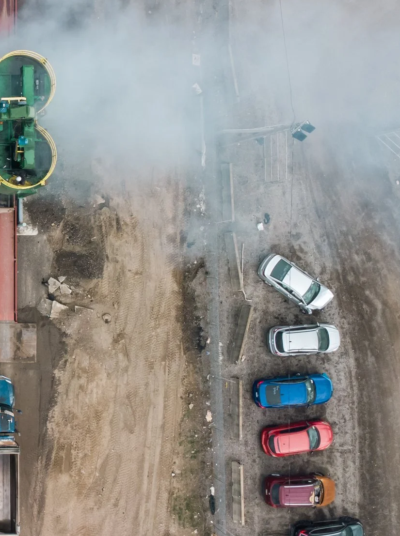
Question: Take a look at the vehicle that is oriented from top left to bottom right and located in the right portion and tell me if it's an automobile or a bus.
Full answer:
I'd identify the vehicle that is oriented from top left to bottom right and located in the right portion as an automobile.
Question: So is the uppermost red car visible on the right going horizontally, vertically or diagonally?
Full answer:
What the image shows is the uppermost red car visible on the right lying horizontally.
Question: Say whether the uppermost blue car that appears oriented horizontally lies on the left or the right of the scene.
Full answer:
It is on the right.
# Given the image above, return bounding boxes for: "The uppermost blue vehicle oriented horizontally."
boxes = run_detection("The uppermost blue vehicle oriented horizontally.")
[249,372,333,408]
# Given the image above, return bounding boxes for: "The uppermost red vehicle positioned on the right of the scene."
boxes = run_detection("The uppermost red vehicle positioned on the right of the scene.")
[257,418,333,456]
